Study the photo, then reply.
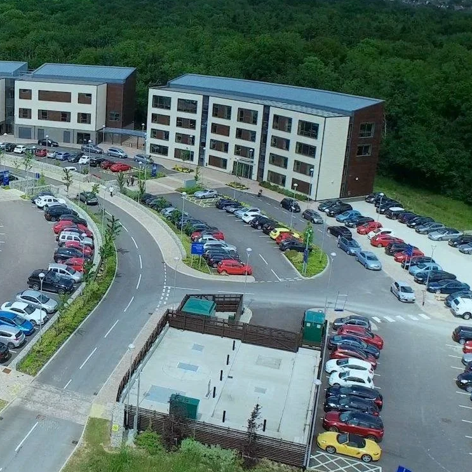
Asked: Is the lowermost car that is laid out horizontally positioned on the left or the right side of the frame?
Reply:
right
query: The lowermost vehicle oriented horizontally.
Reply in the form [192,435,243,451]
[312,433,385,467]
